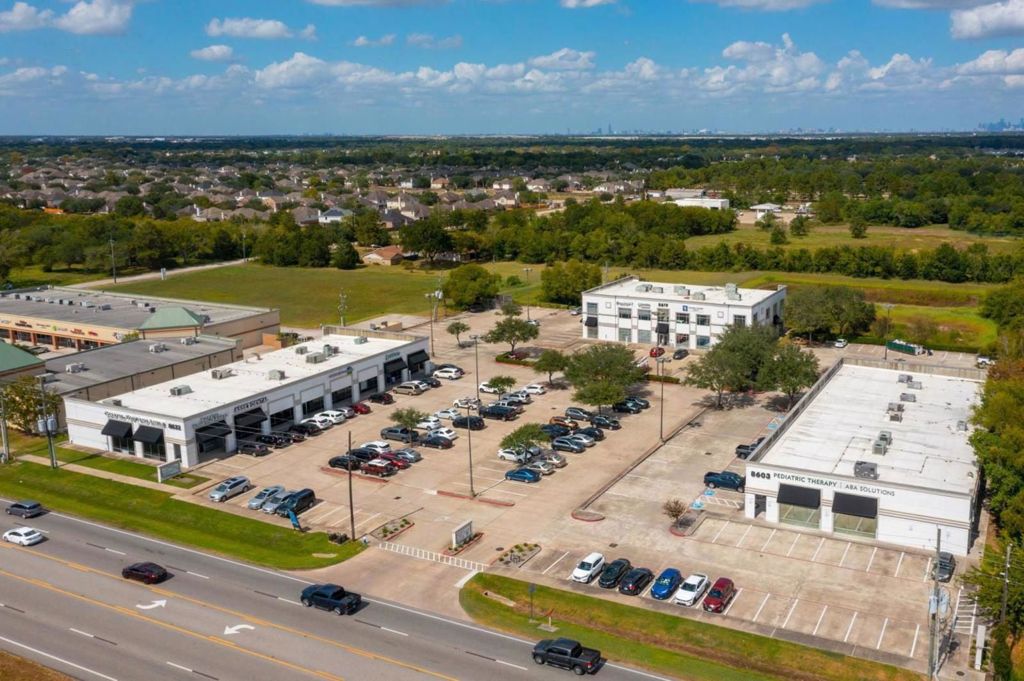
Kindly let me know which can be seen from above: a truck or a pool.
truck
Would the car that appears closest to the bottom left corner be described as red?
No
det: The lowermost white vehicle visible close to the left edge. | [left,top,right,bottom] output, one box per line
[0,525,44,546]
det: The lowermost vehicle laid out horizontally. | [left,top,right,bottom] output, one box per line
[529,637,603,676]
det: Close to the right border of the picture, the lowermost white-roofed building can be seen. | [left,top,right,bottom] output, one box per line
[745,357,999,557]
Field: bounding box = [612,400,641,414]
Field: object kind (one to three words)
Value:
car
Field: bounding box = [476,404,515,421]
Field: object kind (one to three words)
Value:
vehicle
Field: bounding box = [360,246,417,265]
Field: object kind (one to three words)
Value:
house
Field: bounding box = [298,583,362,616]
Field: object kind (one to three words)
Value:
truck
